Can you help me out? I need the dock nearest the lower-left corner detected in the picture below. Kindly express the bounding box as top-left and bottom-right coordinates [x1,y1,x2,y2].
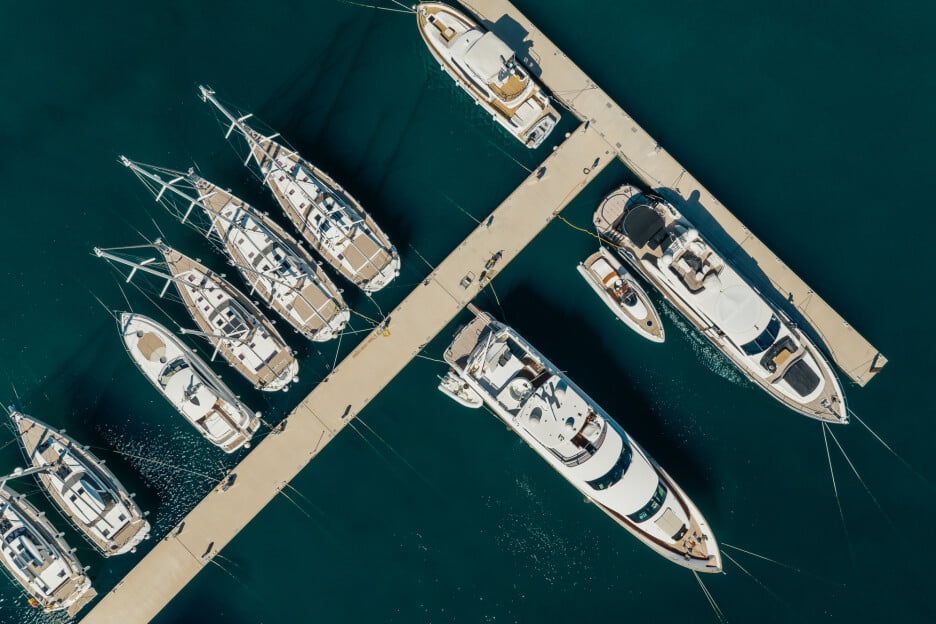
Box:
[80,122,619,624]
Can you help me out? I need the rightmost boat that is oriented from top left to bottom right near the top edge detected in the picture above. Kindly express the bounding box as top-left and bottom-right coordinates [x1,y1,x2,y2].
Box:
[416,0,561,153]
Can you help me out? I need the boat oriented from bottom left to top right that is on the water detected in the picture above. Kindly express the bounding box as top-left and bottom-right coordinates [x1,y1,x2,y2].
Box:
[525,116,556,145]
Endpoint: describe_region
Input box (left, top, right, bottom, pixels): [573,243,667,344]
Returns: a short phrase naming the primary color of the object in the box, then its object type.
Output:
white boat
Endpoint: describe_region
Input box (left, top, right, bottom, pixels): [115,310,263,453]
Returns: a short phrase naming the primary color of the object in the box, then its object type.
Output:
white boat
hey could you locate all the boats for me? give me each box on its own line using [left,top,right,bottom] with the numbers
[573,243,667,344]
[115,310,263,453]
[593,184,852,424]
[112,156,351,343]
[416,0,561,153]
[0,482,96,619]
[191,80,399,294]
[437,370,485,406]
[90,237,302,390]
[445,301,729,577]
[525,116,556,145]
[0,409,155,555]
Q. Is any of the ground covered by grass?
No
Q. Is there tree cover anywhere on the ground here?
No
